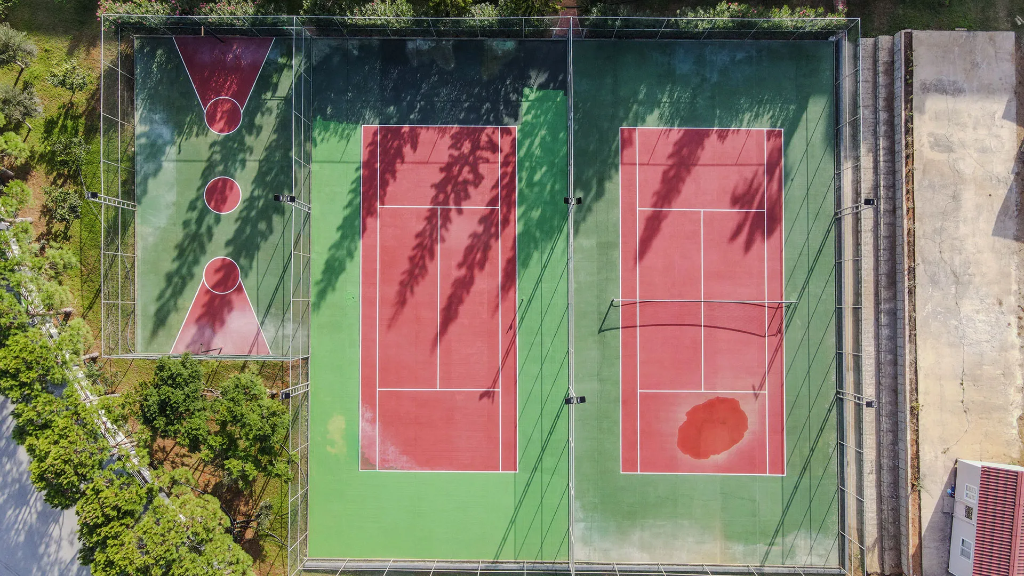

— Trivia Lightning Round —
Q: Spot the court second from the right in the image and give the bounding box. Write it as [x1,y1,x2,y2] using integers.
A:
[309,38,569,560]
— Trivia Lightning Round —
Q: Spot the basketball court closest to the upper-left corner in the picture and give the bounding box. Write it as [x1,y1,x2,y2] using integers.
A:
[136,37,310,355]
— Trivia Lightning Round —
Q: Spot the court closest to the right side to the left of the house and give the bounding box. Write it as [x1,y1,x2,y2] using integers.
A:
[569,39,840,566]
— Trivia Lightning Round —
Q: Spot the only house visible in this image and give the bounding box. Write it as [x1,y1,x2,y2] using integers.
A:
[949,460,1024,576]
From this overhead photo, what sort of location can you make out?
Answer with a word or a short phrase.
sports ground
